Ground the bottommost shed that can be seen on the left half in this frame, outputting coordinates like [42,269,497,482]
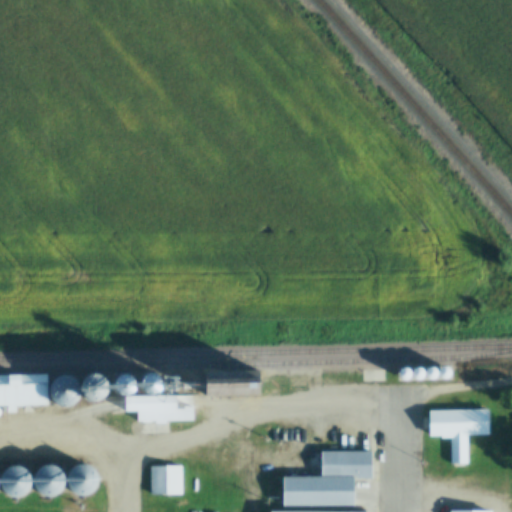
[151,465,184,496]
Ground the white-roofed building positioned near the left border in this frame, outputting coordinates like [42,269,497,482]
[0,374,48,413]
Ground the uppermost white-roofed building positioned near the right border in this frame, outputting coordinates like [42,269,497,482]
[430,410,490,468]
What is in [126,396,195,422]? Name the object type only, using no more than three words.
shed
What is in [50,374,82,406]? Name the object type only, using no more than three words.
silo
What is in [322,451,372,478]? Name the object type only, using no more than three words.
shed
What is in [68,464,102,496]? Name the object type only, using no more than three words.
silo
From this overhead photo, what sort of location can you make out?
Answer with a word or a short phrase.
farmland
